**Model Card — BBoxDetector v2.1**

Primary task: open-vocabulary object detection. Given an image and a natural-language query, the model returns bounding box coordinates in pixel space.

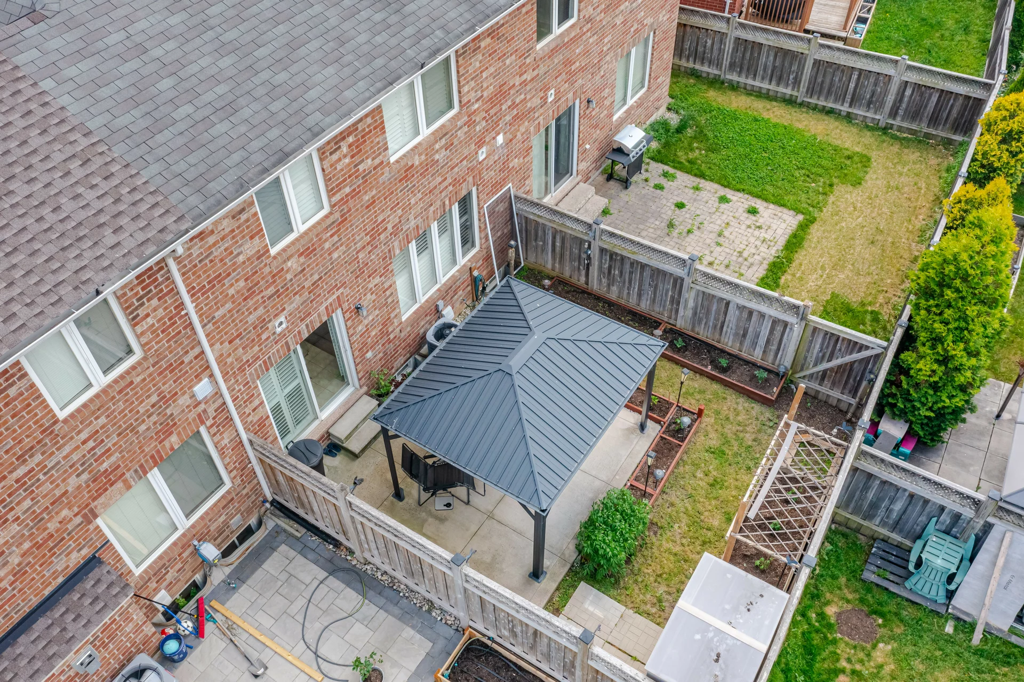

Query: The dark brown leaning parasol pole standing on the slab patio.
[993,370,1024,420]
